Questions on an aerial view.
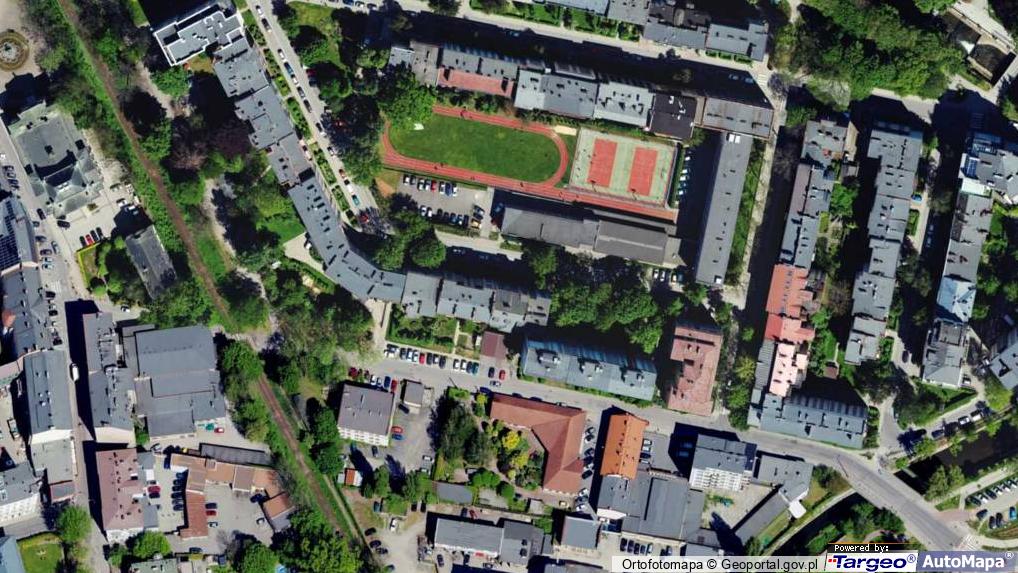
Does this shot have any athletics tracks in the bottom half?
No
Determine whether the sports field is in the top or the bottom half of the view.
top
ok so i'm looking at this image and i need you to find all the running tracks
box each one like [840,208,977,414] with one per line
[383,104,678,222]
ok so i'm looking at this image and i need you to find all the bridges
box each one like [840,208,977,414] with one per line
[848,449,1011,573]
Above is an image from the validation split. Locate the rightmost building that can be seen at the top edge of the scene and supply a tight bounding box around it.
[942,5,1016,87]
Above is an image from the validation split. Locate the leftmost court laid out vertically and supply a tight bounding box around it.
[588,139,617,187]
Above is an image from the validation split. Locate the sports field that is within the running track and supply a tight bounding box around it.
[392,113,562,182]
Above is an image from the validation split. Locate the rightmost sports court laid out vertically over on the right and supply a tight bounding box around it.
[628,147,658,196]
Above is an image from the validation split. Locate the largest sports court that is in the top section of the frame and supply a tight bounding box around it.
[571,129,677,203]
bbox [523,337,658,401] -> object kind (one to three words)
house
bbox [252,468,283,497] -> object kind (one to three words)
shed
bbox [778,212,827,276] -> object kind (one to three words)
house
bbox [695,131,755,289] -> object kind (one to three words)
building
